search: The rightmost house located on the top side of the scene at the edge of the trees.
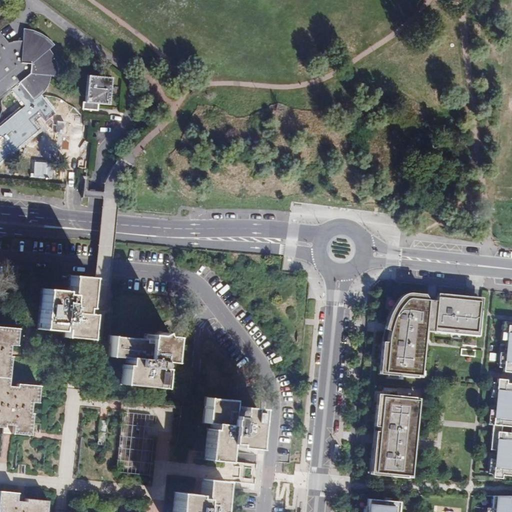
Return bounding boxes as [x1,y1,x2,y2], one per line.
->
[81,76,114,111]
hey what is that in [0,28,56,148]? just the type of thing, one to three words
building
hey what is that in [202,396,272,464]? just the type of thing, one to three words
building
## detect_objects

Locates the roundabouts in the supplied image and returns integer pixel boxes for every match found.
[286,219,399,292]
